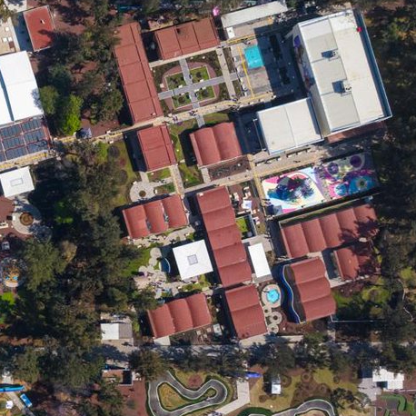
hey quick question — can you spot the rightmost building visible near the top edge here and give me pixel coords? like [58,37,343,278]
[284,9,392,135]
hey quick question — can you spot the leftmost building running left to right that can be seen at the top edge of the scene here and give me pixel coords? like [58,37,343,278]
[154,18,220,62]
